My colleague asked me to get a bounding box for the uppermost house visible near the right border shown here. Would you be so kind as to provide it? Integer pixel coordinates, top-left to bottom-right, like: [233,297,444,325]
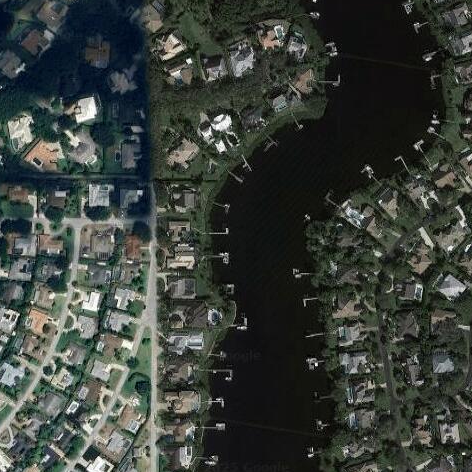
[444,7,471,27]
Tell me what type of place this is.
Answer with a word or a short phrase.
residential area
